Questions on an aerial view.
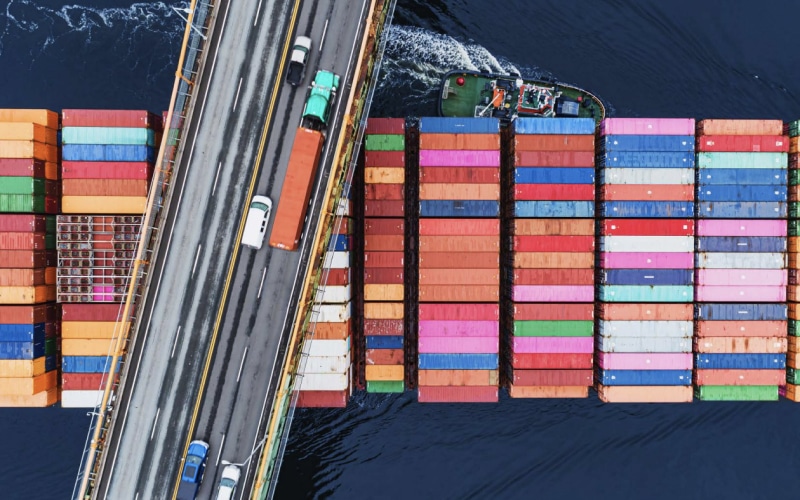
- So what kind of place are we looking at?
port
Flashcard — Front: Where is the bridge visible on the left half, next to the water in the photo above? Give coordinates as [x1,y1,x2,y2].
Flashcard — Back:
[73,0,395,500]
